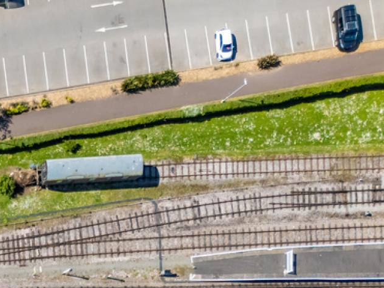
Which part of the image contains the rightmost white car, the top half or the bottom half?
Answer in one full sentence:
Seen from above, the rightmost white car lies in the top half of the view.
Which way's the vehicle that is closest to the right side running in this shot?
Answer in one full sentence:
Seen from above, the vehicle that is closest to the right side lies from top to bottom.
